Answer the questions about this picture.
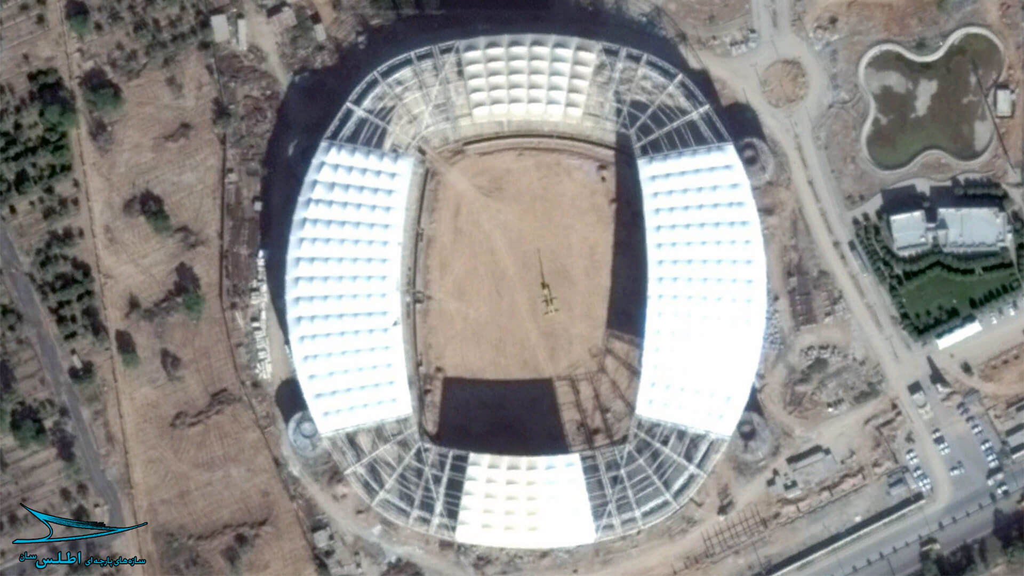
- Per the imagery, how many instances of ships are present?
zero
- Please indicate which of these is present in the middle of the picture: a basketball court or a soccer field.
soccer field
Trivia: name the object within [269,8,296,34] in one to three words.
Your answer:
shed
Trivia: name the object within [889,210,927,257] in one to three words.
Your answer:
house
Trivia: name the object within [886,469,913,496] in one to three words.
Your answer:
building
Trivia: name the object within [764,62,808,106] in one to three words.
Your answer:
roundabout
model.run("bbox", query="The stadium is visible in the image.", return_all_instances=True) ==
[283,34,776,549]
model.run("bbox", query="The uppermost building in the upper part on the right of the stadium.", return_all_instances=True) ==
[996,89,1012,117]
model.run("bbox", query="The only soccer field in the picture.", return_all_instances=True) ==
[416,142,636,454]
